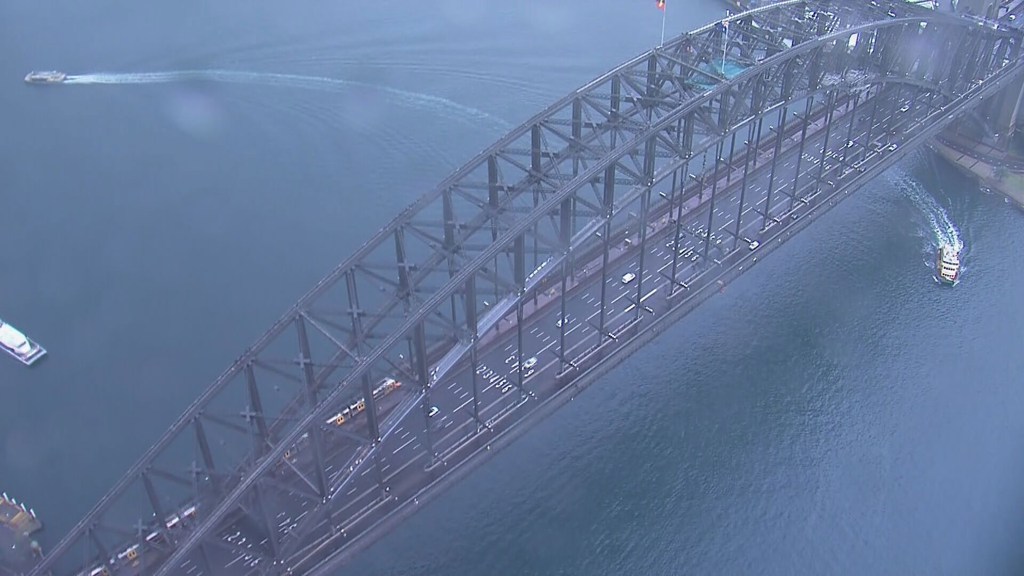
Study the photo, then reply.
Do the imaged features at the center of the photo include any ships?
No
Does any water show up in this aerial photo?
Yes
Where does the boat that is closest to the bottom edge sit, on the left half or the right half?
left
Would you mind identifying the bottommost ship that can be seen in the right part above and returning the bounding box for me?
[939,242,964,286]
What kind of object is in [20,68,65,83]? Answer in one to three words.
ship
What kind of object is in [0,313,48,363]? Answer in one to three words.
boat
